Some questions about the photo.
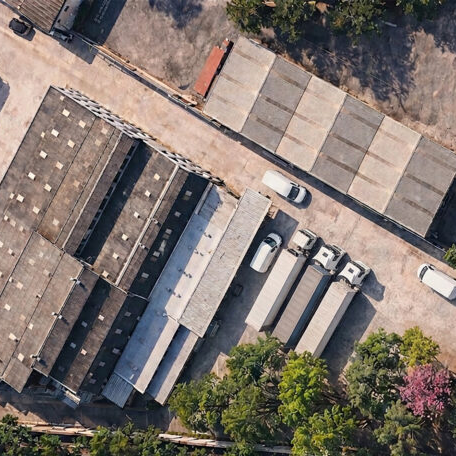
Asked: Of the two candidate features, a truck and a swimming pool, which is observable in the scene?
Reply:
truck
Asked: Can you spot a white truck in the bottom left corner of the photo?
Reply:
No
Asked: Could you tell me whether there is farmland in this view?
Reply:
No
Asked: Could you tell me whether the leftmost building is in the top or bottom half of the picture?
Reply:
top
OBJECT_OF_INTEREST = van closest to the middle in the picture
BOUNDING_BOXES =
[249,235,280,271]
